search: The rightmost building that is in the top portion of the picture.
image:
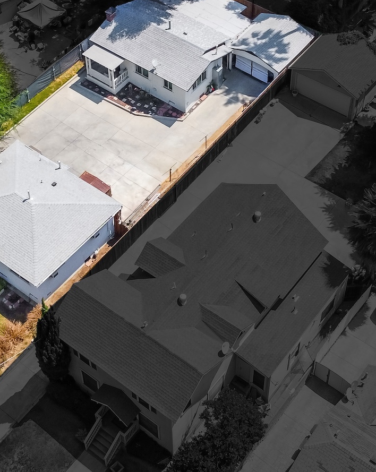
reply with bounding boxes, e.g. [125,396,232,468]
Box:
[289,31,376,118]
